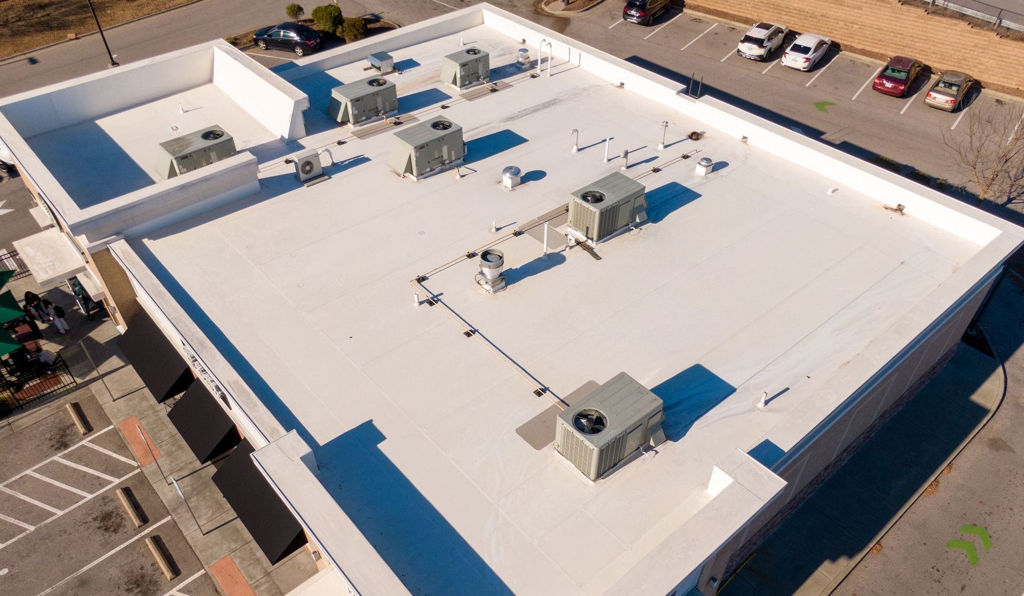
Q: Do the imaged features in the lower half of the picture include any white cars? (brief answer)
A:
No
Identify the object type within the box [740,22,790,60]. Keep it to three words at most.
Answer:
car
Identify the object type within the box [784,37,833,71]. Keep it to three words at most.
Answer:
car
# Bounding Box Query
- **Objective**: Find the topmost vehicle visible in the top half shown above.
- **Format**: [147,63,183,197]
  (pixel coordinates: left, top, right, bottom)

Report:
[626,0,677,25]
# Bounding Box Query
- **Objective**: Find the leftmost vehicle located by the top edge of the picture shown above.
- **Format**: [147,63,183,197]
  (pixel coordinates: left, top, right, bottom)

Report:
[252,24,324,56]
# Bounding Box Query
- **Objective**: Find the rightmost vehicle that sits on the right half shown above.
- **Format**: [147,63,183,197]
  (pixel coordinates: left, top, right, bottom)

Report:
[925,73,976,111]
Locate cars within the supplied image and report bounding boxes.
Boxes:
[626,0,677,25]
[252,24,324,56]
[874,58,924,96]
[925,73,976,111]
[740,22,790,60]
[784,37,833,71]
